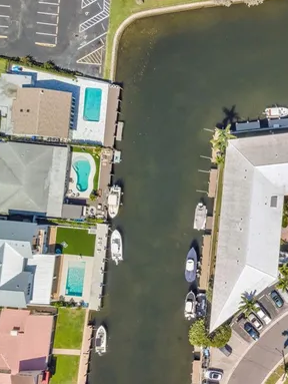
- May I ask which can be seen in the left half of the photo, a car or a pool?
pool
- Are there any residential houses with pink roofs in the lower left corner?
Yes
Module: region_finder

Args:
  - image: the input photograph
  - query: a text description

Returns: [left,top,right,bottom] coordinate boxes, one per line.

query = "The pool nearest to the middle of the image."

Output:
[72,159,92,193]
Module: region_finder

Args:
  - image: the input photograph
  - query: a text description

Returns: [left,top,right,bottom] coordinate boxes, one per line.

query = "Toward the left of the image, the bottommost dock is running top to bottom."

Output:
[77,325,96,384]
